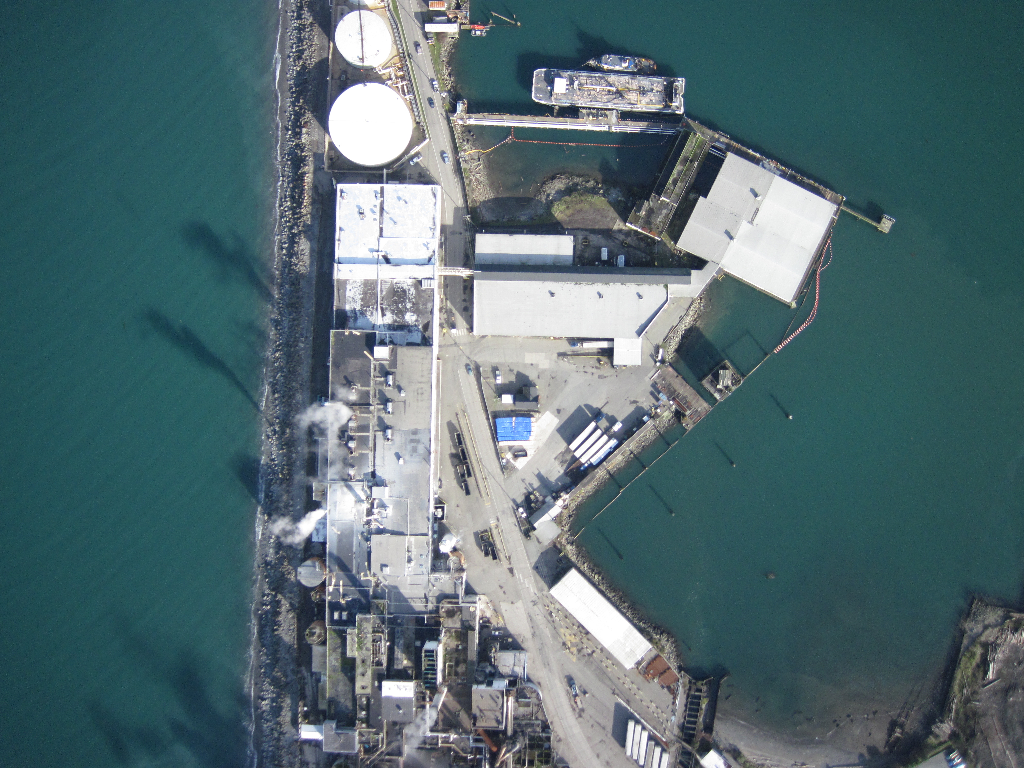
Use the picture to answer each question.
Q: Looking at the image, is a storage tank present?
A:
Yes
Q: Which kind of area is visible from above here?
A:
port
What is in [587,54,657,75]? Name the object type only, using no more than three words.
boat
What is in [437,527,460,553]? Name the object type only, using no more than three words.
silo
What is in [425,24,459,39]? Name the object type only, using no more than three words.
shed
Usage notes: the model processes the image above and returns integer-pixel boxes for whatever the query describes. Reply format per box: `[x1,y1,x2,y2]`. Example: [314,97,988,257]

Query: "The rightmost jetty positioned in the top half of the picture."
[840,205,895,234]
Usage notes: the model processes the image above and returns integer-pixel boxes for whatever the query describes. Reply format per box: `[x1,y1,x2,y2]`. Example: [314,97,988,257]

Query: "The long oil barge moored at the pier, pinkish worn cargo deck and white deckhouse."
[532,68,684,116]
